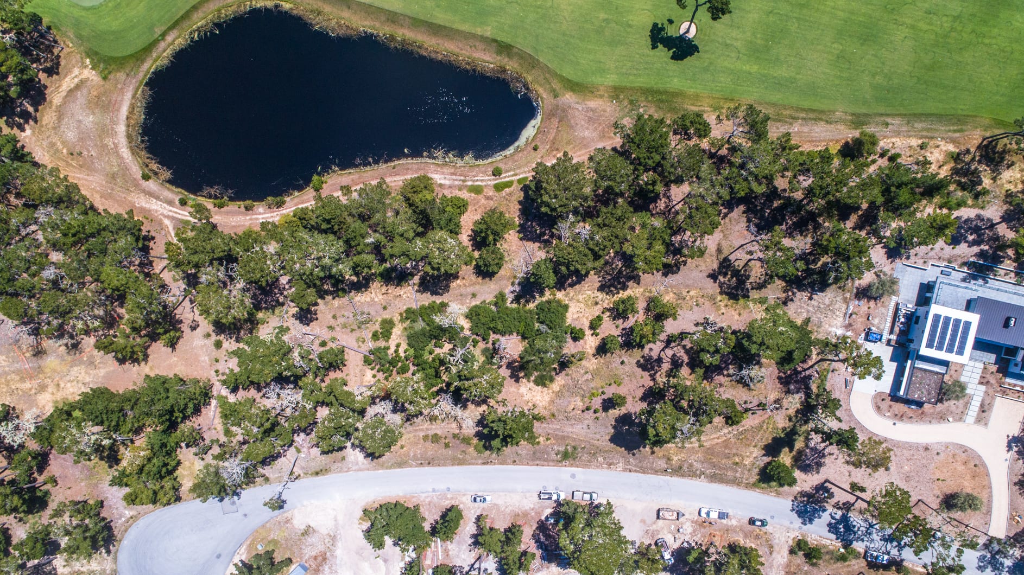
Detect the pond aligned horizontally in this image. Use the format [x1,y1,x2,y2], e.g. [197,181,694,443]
[142,7,542,202]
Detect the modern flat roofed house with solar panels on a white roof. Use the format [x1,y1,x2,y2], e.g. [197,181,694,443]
[890,277,1024,410]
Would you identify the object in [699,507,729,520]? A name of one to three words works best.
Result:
vehicle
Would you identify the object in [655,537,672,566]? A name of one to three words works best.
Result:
vehicle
